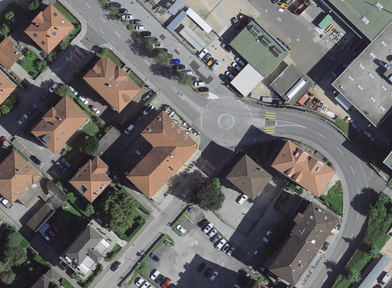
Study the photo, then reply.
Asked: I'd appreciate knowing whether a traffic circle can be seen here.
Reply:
Yes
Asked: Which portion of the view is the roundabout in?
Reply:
center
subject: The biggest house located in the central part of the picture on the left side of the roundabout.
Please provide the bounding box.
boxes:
[127,110,198,198]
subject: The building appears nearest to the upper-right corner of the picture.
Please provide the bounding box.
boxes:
[328,0,392,42]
